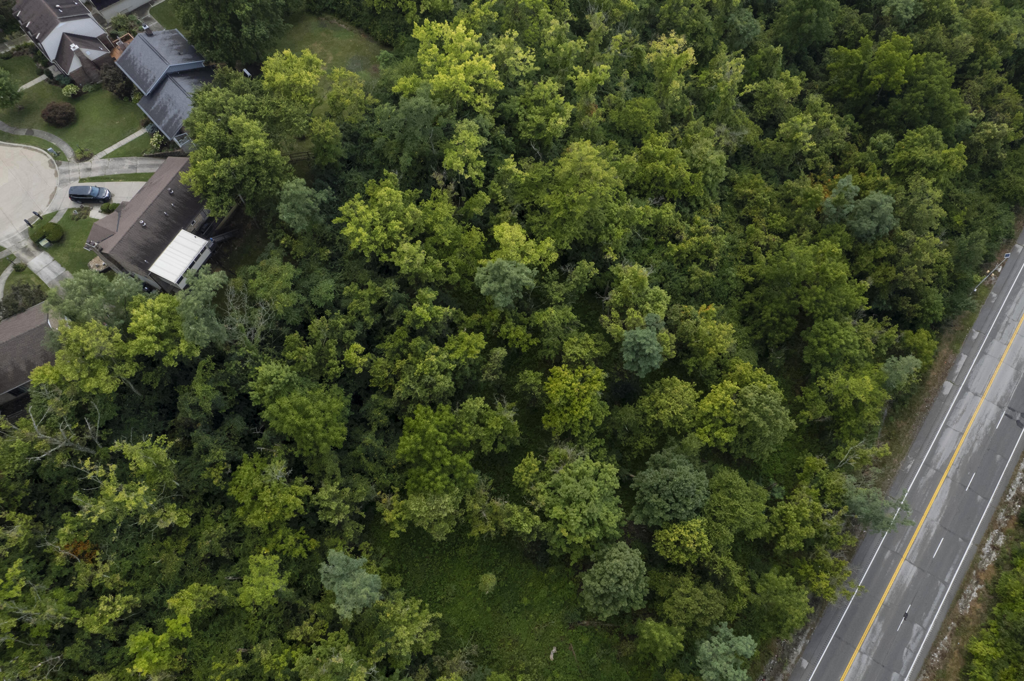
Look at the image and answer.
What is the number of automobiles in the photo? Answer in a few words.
1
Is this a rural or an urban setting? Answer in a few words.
rural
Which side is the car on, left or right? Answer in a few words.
left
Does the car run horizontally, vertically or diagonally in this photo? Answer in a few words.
horizontally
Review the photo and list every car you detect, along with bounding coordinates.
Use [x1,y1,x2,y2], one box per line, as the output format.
[64,182,112,203]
